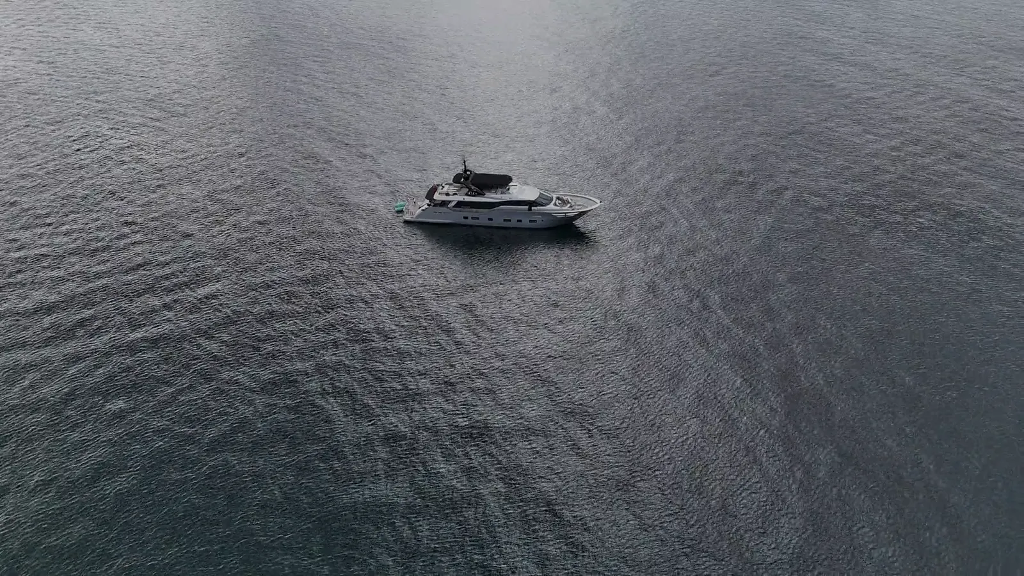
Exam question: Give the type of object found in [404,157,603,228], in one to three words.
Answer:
boat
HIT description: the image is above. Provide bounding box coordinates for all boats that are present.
[393,203,408,213]
[404,157,603,228]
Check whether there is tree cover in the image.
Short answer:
No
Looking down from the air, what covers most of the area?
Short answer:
water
